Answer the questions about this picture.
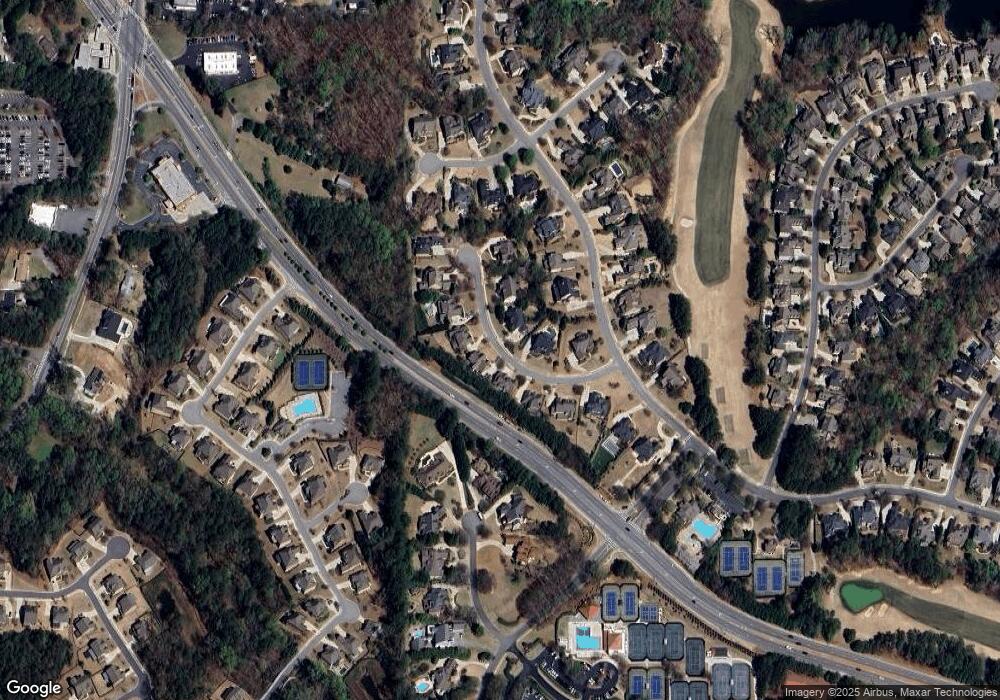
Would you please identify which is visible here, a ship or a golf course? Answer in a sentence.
Visible in the photo is a golf course.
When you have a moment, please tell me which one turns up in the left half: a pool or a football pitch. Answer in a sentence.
There is a pool in the left half.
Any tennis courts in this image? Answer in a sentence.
Yes, there's a tennis court here.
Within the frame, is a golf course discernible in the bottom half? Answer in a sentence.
Yes, I can see a golf course in the bottom half.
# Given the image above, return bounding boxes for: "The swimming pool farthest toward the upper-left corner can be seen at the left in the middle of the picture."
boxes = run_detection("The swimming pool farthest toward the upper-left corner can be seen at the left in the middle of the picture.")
[120,316,135,338]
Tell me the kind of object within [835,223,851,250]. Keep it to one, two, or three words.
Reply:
house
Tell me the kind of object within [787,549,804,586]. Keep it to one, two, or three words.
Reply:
tennis court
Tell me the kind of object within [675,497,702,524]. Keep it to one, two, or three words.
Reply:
building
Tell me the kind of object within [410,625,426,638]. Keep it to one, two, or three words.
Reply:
swimming pool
